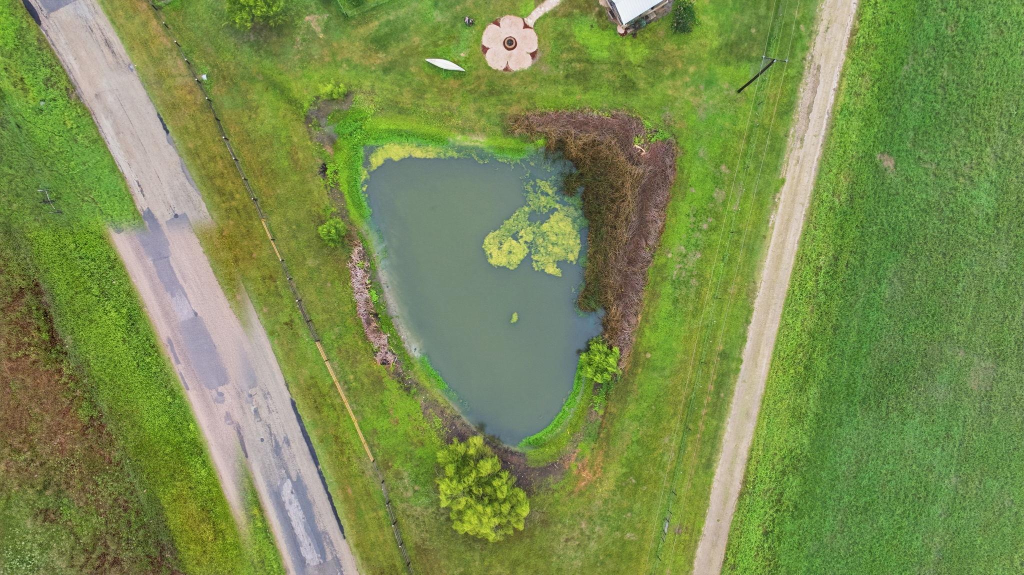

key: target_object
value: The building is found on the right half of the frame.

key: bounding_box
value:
[600,0,671,33]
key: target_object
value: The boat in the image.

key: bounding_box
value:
[426,59,465,72]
